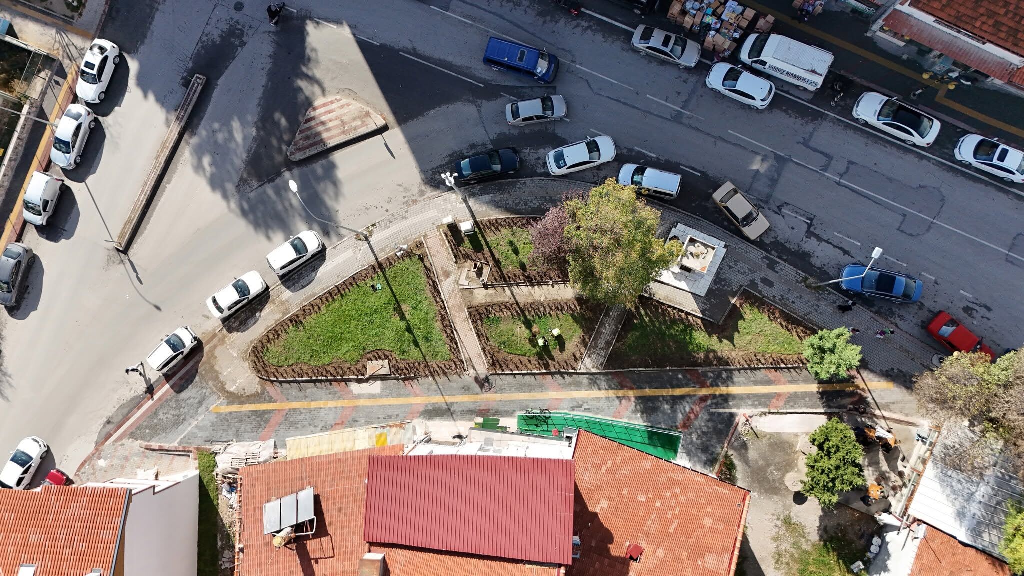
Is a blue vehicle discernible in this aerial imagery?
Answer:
Yes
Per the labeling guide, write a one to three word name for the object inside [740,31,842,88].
van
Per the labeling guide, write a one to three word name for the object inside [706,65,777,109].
car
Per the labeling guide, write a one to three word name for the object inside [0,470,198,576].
house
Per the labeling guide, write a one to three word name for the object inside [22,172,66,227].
car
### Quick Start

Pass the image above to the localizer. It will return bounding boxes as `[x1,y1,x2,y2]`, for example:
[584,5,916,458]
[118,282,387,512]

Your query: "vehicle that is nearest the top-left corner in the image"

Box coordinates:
[77,39,122,104]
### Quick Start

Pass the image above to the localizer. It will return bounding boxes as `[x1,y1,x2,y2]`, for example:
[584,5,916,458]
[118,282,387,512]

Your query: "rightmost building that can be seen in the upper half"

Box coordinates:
[881,0,1024,85]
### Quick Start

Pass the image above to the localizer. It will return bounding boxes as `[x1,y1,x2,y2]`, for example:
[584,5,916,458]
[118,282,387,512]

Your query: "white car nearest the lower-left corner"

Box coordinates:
[0,437,51,488]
